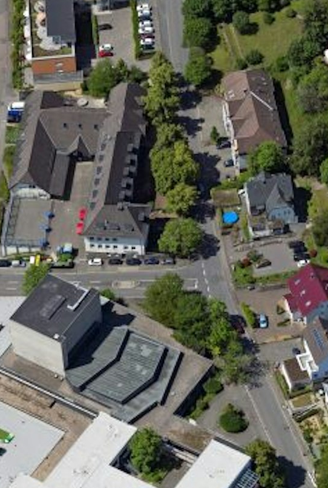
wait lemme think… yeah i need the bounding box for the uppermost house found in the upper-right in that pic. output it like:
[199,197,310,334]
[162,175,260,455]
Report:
[226,70,287,176]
